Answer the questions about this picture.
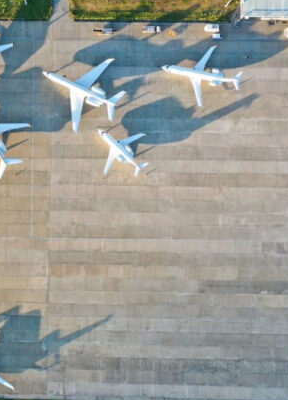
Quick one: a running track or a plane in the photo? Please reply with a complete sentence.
I can see a plane in this picture.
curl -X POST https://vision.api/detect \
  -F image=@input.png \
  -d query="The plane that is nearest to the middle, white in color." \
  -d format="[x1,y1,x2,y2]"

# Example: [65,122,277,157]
[99,130,150,177]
